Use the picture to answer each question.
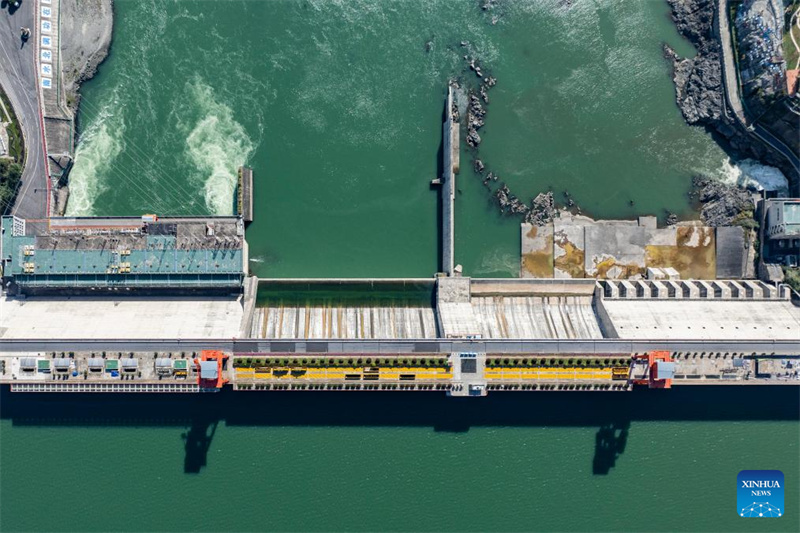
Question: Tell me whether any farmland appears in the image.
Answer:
No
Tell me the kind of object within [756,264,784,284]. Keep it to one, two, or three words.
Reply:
shed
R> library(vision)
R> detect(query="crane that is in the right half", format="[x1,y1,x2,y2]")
[620,350,674,388]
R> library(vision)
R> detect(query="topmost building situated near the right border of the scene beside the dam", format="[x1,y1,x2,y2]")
[764,199,800,258]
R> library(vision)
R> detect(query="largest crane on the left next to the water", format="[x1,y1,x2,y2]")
[191,350,237,388]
